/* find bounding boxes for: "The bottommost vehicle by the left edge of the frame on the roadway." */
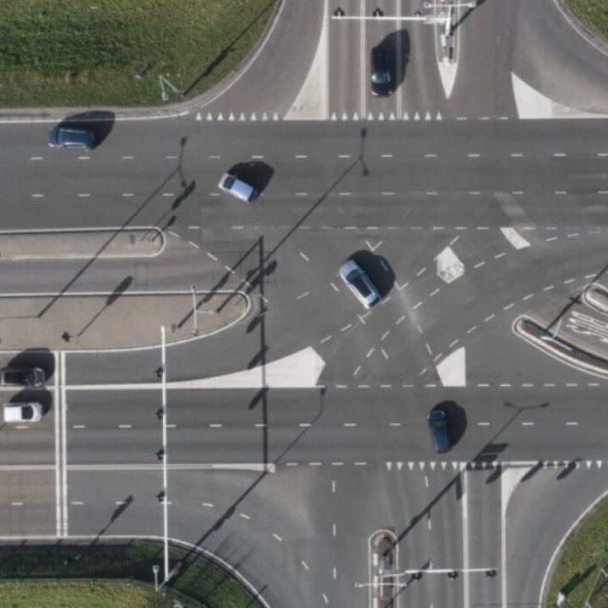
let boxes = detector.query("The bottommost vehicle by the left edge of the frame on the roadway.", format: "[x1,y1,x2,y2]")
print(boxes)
[1,401,45,423]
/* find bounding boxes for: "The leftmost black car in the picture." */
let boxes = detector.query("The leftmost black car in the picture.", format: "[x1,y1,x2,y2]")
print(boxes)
[1,364,48,387]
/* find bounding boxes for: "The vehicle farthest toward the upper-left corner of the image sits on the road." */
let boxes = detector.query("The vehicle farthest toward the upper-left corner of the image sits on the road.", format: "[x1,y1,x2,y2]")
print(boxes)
[49,126,96,150]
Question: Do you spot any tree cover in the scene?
No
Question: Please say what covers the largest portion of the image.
paved ground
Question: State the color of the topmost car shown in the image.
black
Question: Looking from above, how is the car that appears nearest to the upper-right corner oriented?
vertically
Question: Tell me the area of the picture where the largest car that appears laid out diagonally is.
center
